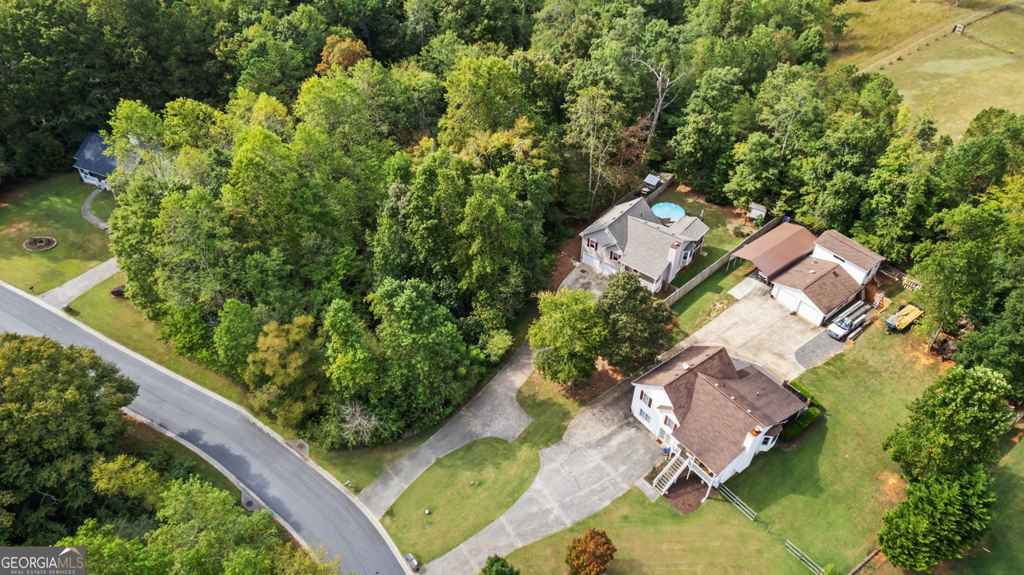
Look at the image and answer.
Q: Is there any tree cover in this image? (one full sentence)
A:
Yes, the picture does contain tree cover.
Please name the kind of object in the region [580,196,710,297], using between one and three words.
house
